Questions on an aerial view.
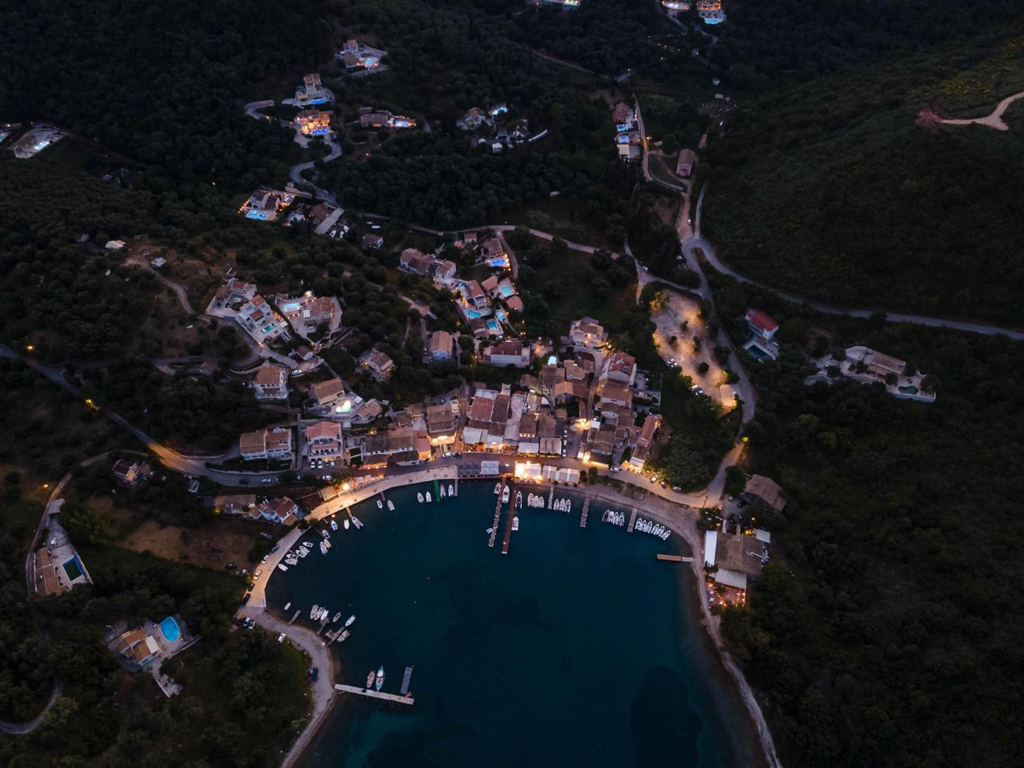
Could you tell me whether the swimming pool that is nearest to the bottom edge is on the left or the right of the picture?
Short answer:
left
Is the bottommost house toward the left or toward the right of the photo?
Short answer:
left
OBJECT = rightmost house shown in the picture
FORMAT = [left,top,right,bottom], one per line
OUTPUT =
[866,350,904,381]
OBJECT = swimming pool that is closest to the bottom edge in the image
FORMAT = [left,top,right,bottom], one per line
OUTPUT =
[159,615,182,643]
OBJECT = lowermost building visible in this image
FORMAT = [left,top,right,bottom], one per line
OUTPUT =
[116,624,166,670]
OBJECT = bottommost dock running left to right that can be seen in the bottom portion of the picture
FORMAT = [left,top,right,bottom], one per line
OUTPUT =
[333,682,415,707]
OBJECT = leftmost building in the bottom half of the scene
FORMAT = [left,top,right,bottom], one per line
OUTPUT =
[36,546,74,598]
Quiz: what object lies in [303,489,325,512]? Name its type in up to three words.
shed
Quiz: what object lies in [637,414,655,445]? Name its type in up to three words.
house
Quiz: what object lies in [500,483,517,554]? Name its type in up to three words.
pier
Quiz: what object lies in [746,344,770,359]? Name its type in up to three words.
swimming pool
